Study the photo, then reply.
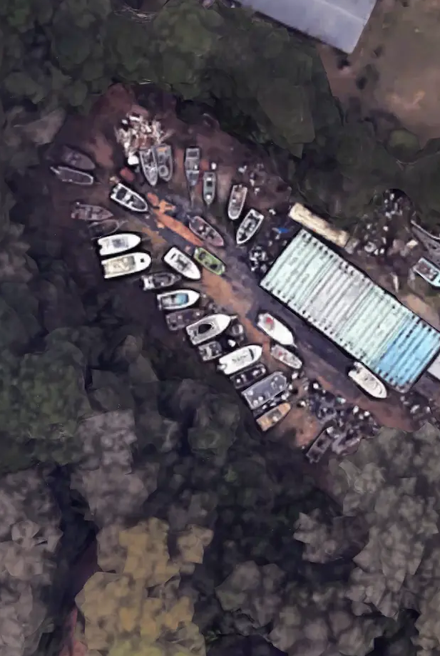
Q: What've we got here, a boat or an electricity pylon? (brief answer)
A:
boat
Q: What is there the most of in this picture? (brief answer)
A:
trees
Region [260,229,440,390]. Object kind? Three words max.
shed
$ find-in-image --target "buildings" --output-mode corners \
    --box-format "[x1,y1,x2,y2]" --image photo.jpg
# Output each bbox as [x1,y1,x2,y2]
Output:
[256,0,377,54]
[260,229,440,390]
